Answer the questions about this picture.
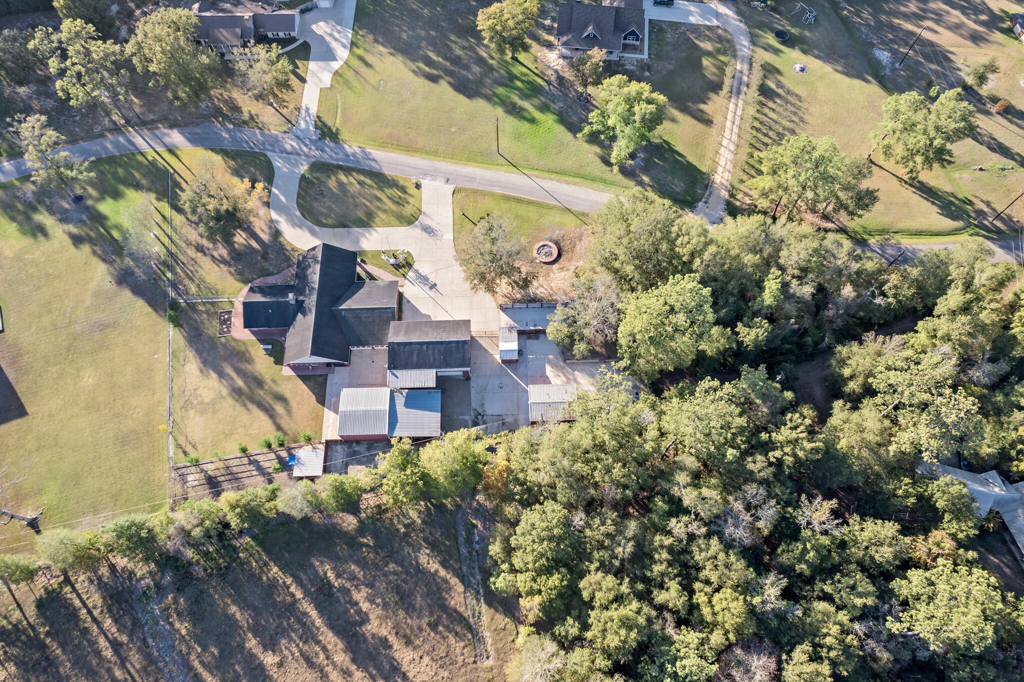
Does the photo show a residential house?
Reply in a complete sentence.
Yes, the image includes a residential house.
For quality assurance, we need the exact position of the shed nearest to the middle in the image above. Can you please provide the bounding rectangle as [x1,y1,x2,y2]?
[499,327,517,365]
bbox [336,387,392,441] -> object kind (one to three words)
shed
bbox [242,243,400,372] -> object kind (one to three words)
house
